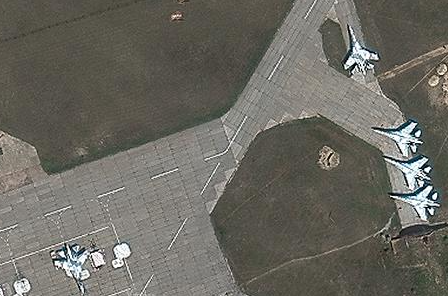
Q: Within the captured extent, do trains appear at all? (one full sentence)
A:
No, the scene contains no train.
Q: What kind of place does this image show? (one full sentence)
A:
This looks like an airport.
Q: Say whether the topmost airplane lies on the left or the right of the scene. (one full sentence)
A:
The topmost airplane is on the right side of the image.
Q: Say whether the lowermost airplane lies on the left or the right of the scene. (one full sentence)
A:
You can find the lowermost airplane on the left side of the picture.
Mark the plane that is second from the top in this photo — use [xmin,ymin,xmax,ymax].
[370,120,426,157]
